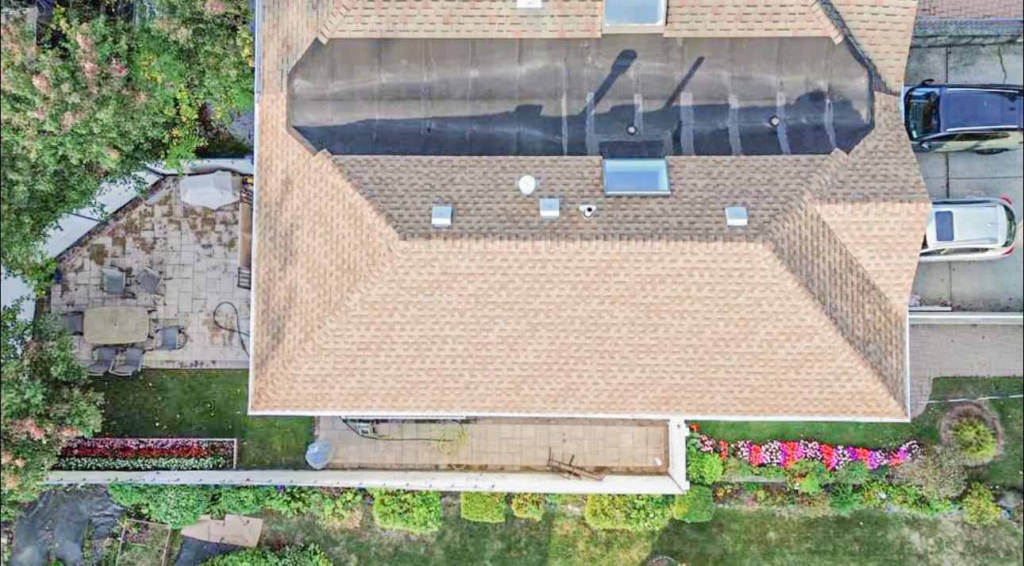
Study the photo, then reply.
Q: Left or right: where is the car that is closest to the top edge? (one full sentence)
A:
You can find the car that is closest to the top edge on the right side of the picture.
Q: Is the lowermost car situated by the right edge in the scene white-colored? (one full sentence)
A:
Yes, the lowermost car situated by the right edge appears white.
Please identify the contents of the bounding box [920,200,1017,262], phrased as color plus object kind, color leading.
white car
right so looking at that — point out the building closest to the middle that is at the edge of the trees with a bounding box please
[247,0,933,421]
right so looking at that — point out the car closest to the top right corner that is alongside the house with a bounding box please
[907,79,1024,154]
